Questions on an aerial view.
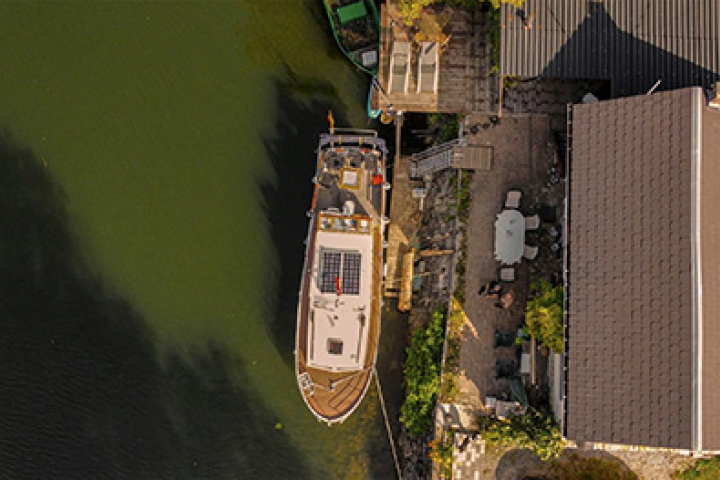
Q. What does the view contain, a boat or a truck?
boat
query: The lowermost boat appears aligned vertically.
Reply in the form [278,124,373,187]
[294,110,388,426]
